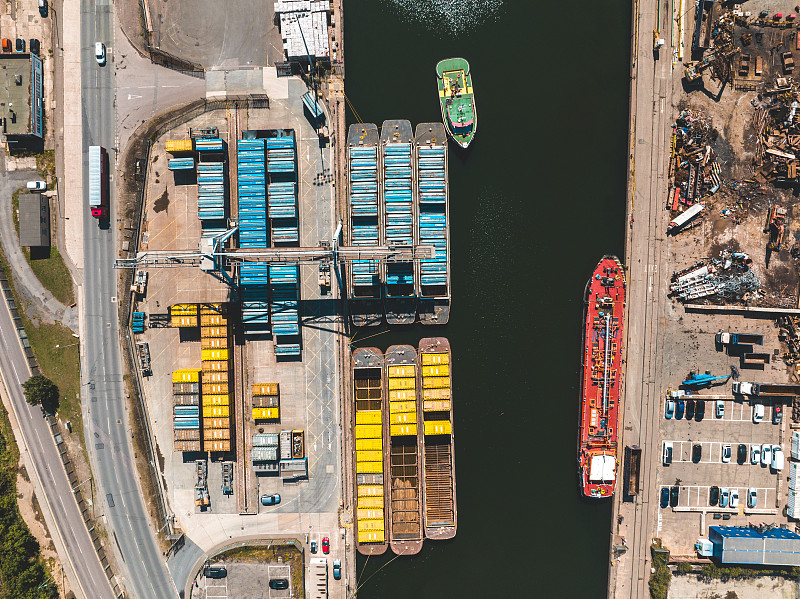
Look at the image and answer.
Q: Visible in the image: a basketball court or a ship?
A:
ship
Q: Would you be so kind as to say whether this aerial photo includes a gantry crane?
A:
Yes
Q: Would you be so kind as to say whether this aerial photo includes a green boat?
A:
Yes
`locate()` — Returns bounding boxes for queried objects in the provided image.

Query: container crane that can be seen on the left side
[115,219,437,296]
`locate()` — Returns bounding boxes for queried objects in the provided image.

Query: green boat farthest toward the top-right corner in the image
[434,56,478,151]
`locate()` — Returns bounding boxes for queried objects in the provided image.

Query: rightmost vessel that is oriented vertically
[576,256,625,498]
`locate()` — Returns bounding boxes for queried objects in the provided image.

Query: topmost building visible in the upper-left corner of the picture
[0,53,43,138]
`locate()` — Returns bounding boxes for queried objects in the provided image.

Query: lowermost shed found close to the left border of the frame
[20,194,49,248]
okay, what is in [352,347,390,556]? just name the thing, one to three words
ship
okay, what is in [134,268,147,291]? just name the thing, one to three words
vehicle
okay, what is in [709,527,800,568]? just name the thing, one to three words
building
